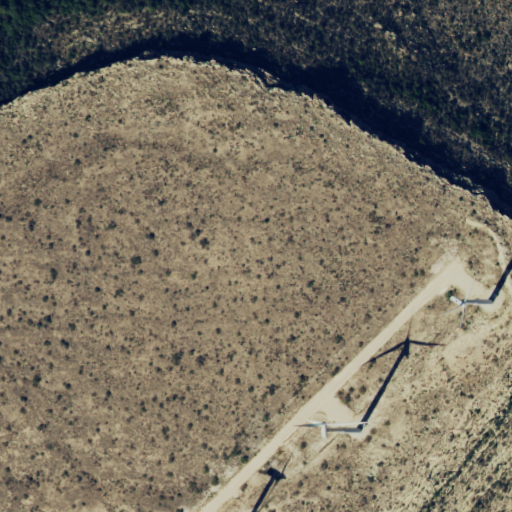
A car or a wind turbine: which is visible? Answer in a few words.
wind turbine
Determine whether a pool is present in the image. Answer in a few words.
No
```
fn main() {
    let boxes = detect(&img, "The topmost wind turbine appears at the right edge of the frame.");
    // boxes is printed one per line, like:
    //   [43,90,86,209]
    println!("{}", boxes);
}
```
[444,272,496,328]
